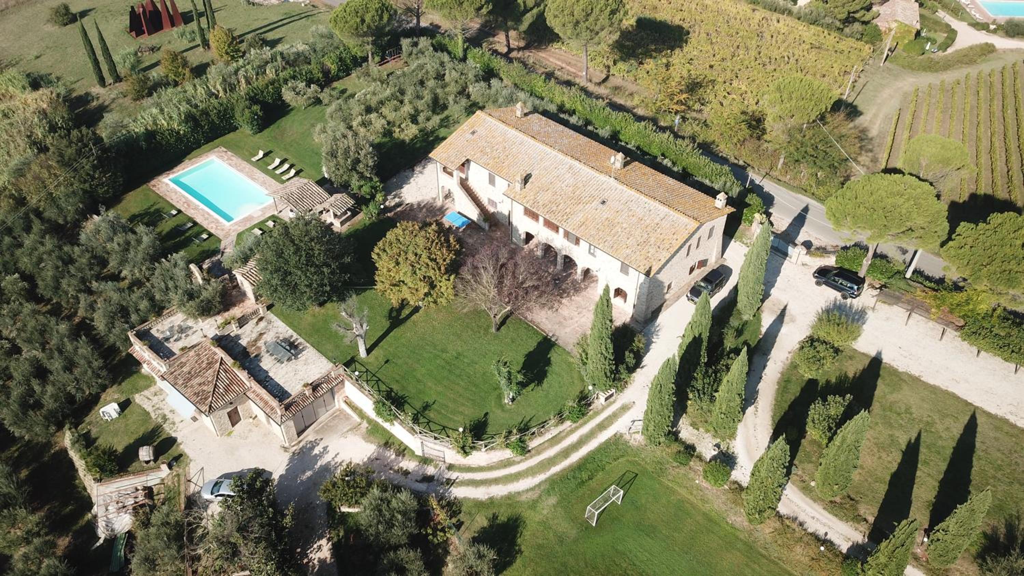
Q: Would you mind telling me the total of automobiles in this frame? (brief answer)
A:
3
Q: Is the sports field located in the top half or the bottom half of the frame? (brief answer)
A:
bottom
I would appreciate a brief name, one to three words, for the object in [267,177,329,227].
building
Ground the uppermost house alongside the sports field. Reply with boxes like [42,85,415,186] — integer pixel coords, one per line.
[428,102,737,319]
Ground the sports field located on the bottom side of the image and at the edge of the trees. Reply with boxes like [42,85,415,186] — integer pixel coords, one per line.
[395,454,807,576]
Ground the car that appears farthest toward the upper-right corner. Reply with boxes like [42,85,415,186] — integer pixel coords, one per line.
[808,261,869,298]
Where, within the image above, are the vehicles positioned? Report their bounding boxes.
[199,480,260,511]
[687,264,732,306]
[808,261,869,298]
